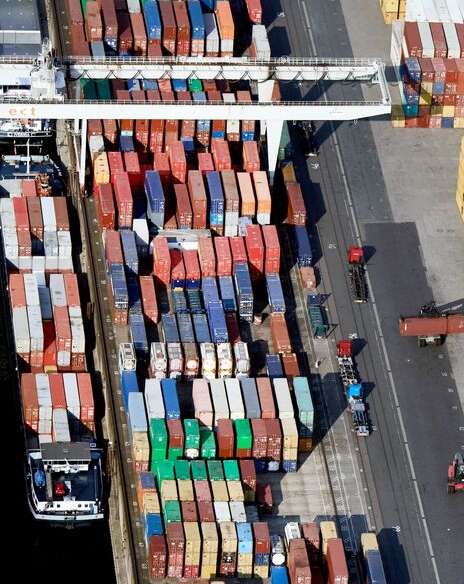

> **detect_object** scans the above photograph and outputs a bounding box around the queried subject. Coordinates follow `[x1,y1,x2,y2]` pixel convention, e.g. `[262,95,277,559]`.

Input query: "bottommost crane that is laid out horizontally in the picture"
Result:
[0,51,392,195]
